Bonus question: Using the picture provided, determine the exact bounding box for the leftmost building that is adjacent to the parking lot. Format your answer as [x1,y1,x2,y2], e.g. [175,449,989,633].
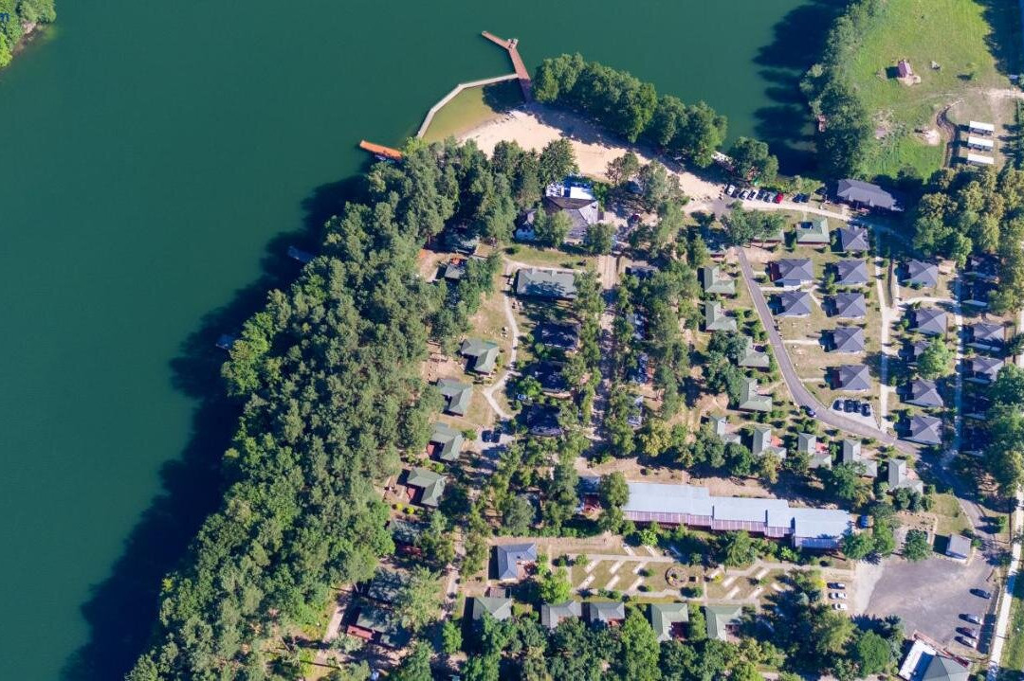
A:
[621,482,852,548]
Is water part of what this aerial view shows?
Yes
